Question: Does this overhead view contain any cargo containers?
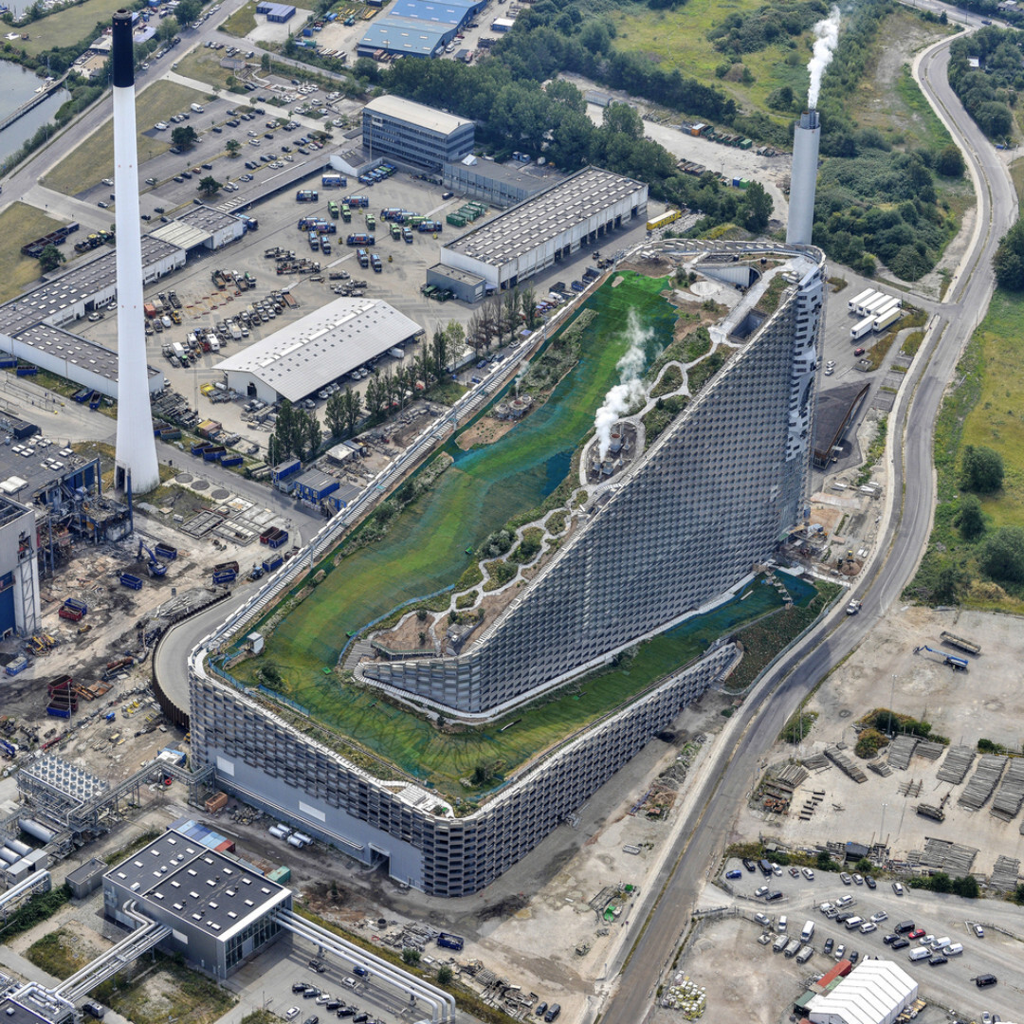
Yes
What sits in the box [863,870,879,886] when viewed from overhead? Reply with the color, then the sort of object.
gray car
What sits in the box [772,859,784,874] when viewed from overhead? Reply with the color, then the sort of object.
white vehicle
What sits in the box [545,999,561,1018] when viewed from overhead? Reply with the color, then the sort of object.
gray vehicle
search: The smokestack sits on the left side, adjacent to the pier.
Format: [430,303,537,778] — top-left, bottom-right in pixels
[107,8,159,494]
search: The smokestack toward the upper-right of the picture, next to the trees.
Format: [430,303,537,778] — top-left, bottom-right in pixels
[791,110,824,245]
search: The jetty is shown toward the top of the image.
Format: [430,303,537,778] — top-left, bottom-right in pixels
[0,73,74,135]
